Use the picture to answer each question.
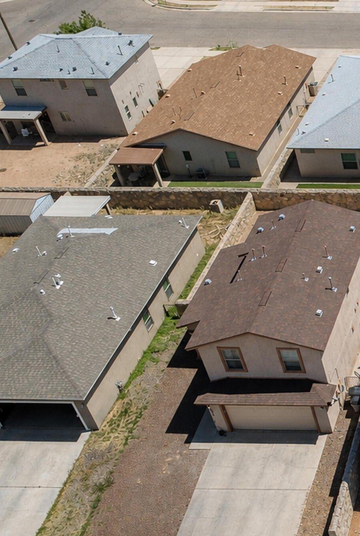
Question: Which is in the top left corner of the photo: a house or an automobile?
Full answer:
Visible in the top left corner of the photo is a house.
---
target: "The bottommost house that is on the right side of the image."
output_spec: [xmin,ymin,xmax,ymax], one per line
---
[178,199,360,433]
